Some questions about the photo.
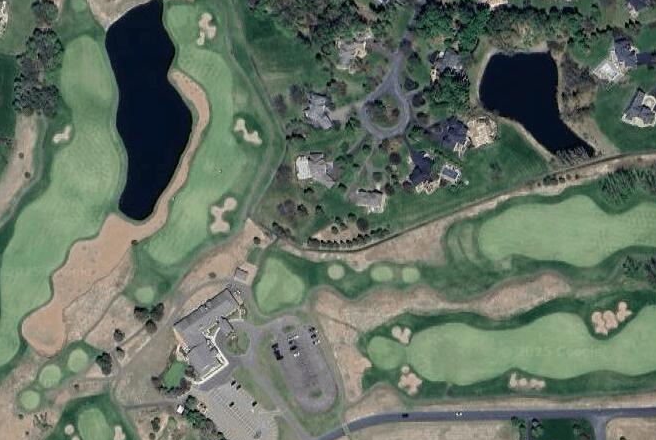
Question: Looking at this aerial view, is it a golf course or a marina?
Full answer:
The area seen from above is a golf course.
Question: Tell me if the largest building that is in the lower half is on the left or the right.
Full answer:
It is on the left.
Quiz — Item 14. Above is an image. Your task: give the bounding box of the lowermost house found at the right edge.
[623,86,656,126]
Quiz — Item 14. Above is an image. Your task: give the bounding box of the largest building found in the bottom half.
[175,288,243,384]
